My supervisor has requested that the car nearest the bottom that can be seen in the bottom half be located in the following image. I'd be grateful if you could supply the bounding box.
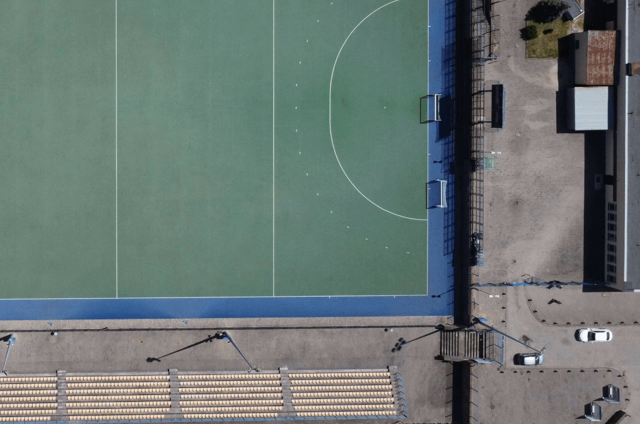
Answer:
[516,353,545,369]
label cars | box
[516,353,545,369]
[581,328,615,345]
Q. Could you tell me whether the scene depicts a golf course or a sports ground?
sports ground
